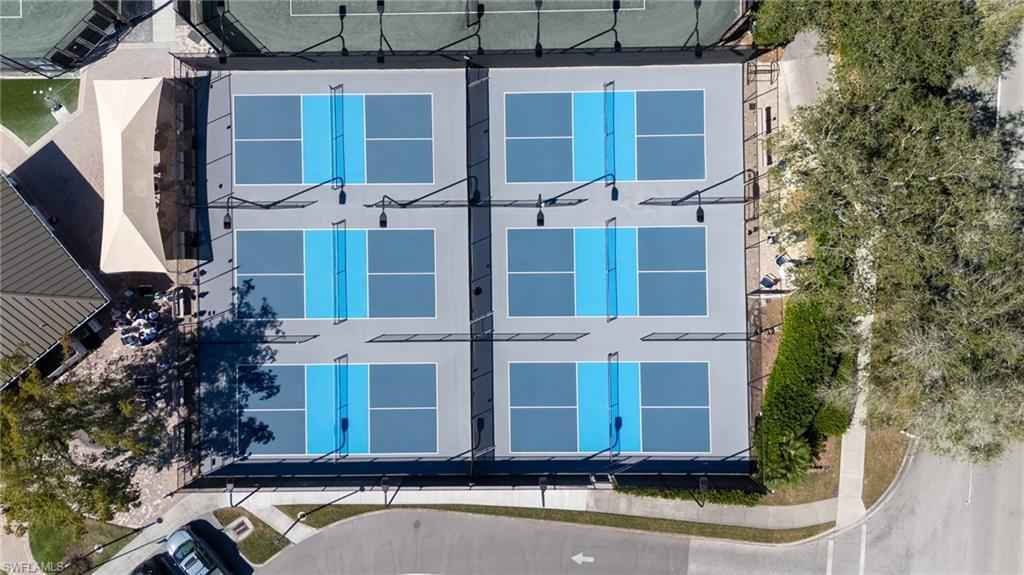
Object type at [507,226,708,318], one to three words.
sports court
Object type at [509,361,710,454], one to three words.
sports court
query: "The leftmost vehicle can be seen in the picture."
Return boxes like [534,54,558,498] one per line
[134,555,174,575]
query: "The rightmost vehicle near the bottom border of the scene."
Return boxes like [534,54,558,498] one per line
[167,527,228,575]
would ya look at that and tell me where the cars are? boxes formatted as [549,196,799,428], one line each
[134,555,174,575]
[167,527,228,575]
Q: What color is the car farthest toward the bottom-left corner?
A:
black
